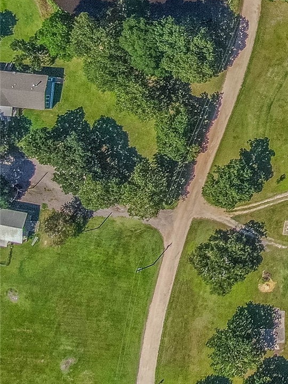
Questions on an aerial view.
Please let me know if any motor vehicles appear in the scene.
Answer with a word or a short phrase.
No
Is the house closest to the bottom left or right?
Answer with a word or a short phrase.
left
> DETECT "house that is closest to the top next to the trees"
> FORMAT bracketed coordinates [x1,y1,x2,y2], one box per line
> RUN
[0,71,63,110]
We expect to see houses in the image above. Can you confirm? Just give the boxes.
[0,211,33,245]
[0,71,63,110]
